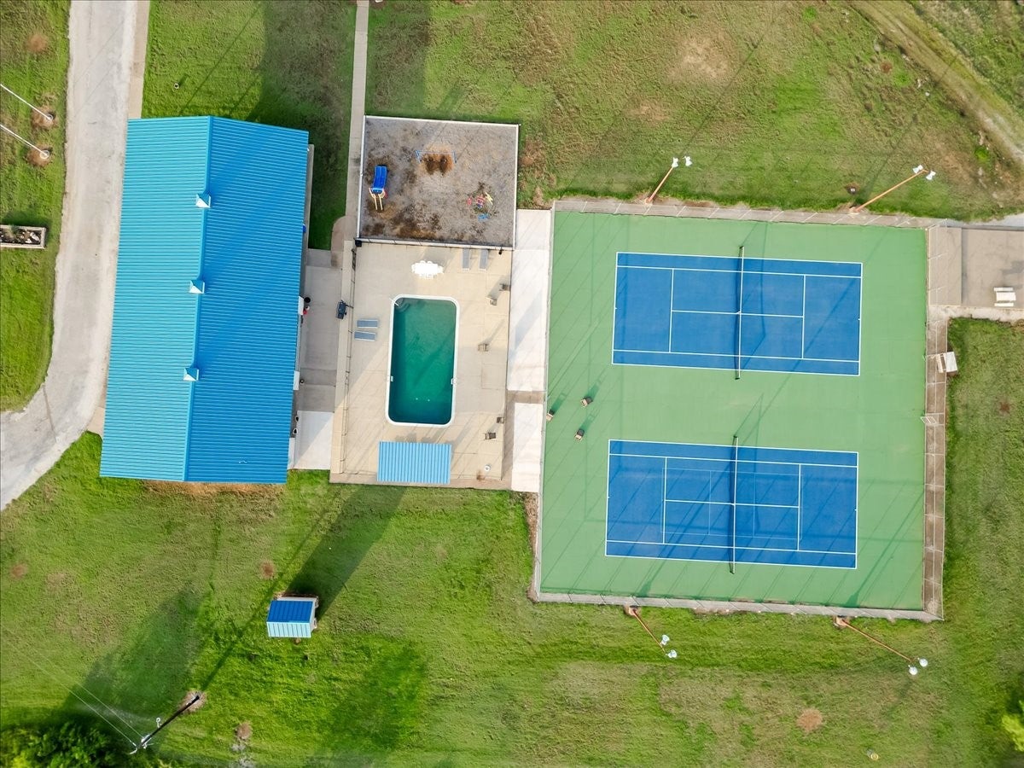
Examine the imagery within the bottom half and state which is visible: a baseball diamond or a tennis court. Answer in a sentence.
What appears within the bottom half is a tennis court.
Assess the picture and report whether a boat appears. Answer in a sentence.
No, no boat is visible in the scene.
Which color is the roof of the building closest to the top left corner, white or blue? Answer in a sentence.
In this view, the roof of the building closest to the top left corner is blue.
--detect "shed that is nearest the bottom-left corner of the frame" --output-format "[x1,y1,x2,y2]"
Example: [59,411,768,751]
[268,594,324,638]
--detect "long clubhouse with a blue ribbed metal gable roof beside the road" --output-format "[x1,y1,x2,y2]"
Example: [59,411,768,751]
[98,115,312,485]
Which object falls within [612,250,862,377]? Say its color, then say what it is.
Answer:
blue tennis court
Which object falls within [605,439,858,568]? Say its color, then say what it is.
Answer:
blue tennis court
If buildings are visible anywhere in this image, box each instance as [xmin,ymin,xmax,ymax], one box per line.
[98,115,312,485]
[268,594,324,638]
